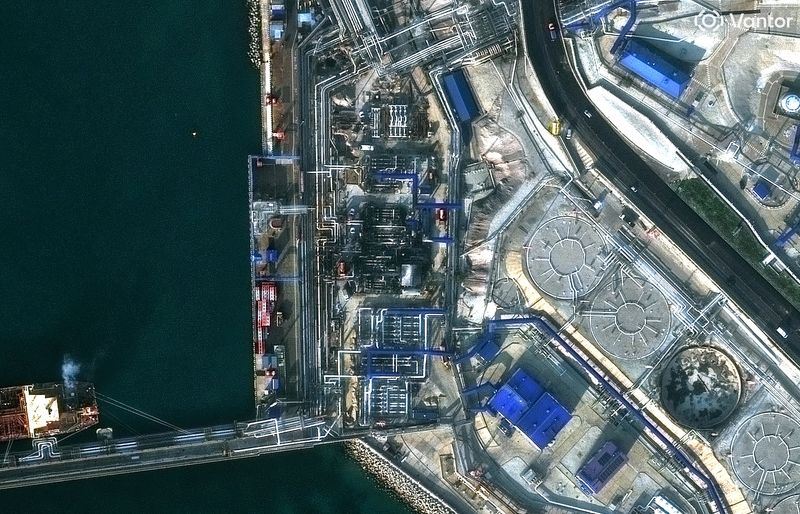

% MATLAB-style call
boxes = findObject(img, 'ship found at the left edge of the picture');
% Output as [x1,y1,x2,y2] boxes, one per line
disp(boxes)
[0,382,98,441]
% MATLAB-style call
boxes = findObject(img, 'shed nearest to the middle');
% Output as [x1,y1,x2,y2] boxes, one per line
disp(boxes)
[402,263,420,293]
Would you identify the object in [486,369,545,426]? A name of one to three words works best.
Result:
building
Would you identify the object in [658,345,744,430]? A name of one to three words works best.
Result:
storage tank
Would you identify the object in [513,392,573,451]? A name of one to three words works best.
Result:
building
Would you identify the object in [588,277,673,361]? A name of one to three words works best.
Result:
storage tank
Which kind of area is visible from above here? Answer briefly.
industrial area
